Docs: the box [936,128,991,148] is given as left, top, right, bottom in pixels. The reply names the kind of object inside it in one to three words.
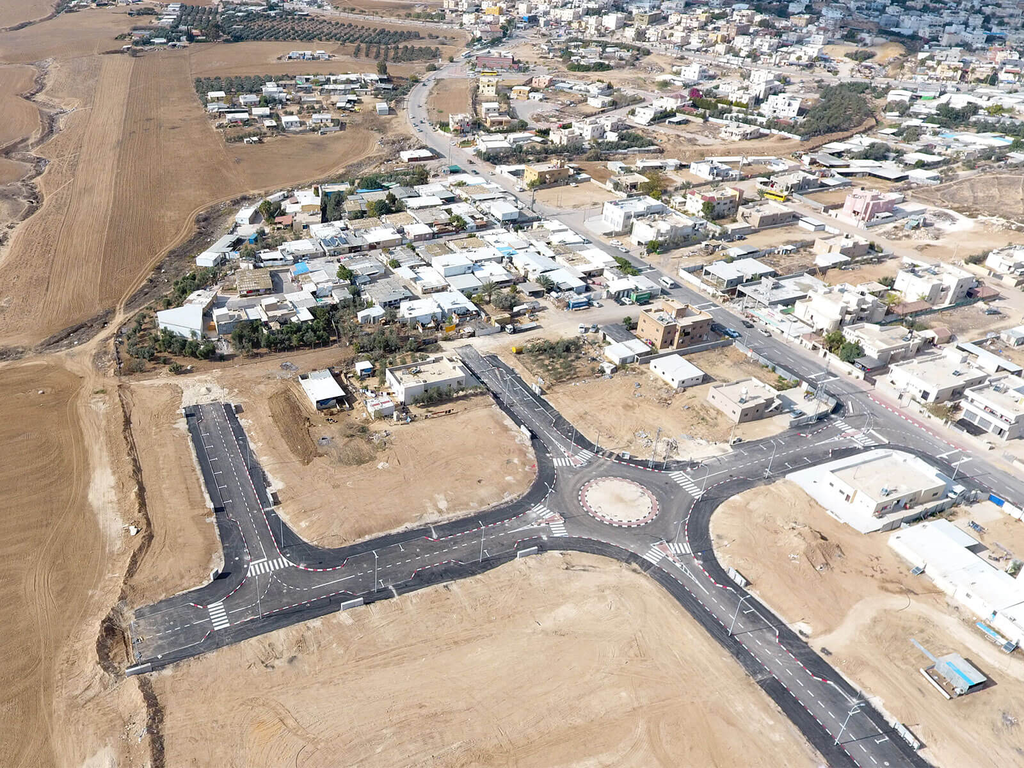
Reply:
shed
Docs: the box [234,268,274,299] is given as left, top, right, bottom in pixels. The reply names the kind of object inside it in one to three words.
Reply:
barn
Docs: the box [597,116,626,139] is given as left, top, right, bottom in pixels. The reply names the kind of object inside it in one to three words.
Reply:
house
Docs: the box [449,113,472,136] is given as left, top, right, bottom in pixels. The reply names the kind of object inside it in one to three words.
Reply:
building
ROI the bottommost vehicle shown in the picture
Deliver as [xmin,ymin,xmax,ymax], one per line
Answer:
[947,483,969,497]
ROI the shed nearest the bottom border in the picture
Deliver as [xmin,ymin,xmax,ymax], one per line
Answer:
[932,654,987,693]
